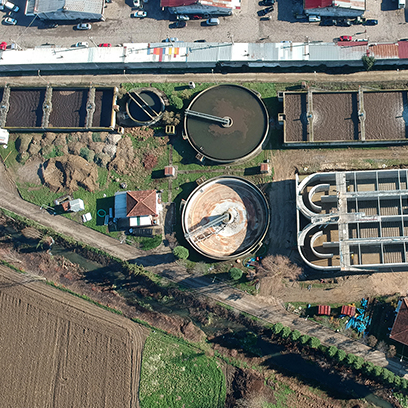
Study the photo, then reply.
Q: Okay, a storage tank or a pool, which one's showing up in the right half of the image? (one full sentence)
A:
There is a storage tank in the right half of the image.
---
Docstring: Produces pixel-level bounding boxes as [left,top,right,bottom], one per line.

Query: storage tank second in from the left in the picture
[125,89,169,128]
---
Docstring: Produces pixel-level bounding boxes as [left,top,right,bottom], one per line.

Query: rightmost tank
[282,91,408,145]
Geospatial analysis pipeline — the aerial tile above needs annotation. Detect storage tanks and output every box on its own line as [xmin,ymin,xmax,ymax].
[181,85,271,166]
[0,88,122,132]
[125,89,169,128]
[178,175,272,264]
[282,91,408,145]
